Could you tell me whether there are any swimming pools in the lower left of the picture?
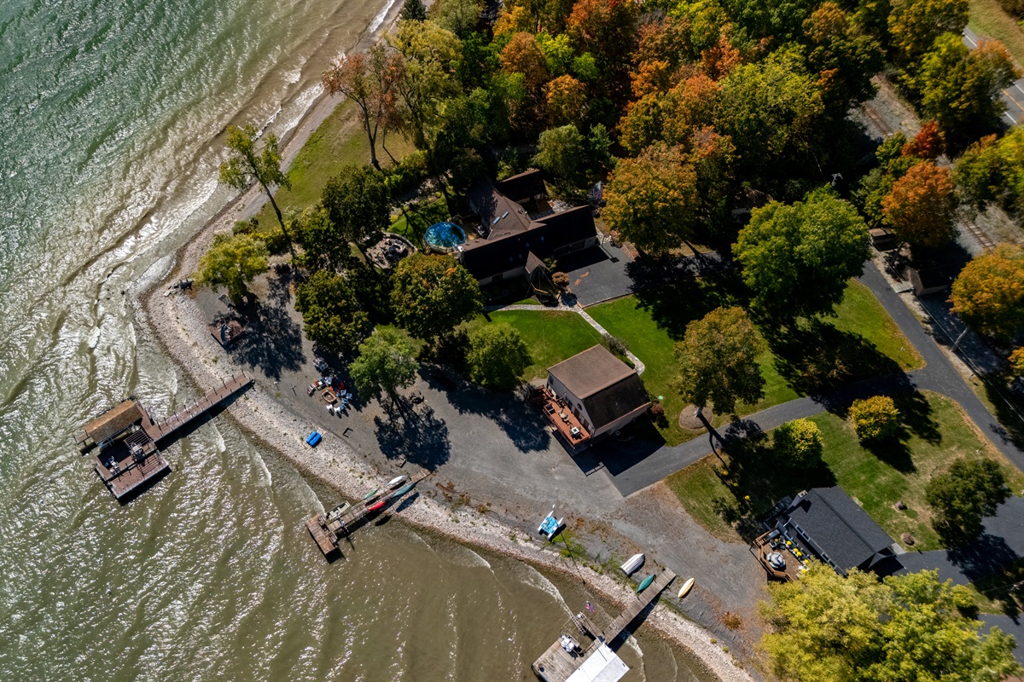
No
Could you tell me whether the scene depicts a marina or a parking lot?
marina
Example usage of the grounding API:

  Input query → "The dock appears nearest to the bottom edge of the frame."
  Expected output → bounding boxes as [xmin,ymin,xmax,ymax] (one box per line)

[531,569,676,682]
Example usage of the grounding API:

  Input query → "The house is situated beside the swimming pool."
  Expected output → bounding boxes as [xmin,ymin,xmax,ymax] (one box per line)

[456,170,598,288]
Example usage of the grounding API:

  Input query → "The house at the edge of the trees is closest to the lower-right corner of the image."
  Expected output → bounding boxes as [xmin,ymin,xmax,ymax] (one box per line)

[761,486,897,577]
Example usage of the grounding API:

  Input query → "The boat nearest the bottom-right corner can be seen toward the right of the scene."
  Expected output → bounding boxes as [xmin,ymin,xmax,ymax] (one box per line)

[679,578,694,598]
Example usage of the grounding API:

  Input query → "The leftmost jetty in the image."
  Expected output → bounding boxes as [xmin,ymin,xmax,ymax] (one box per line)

[70,367,256,502]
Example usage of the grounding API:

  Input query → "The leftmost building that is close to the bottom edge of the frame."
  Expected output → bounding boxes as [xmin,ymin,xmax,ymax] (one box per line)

[566,643,629,682]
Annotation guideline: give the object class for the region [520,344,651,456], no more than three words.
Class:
house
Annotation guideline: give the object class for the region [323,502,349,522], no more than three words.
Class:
boat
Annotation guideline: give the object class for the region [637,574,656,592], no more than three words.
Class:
boat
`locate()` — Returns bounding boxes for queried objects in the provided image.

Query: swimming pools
[419,219,466,256]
